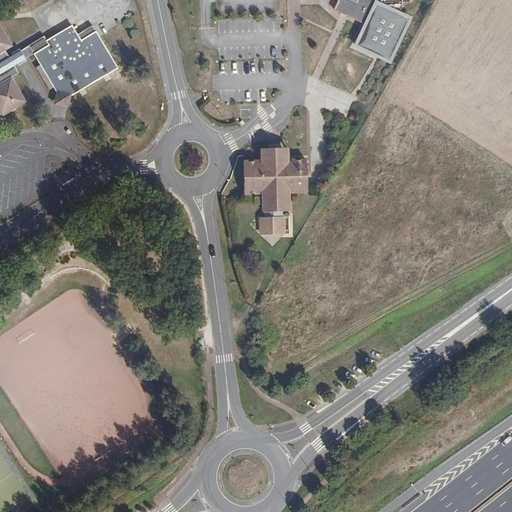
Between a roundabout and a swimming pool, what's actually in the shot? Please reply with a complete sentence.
Of the two, only a roundabout appears.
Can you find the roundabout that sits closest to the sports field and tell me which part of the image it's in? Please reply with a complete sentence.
The roundabout that sits closest to the sports field is in the bottom part of the image.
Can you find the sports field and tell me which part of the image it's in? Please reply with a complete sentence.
The sports field is in the bottom left part of the image.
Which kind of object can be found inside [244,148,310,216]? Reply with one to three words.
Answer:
house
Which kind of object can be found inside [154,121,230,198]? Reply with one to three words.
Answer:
roundabout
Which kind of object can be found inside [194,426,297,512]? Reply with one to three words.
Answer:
roundabout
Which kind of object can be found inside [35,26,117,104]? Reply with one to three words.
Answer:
building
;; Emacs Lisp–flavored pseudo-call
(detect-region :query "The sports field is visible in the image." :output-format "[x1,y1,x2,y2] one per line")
[0,289,151,487]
